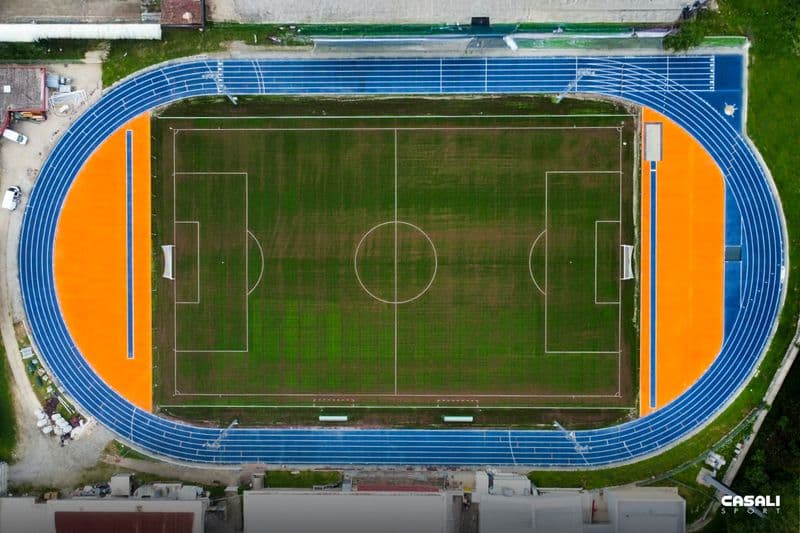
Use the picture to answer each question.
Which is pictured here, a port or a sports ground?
sports ground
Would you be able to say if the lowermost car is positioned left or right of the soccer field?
left of it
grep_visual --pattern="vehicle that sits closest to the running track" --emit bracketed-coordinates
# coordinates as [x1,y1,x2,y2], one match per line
[2,187,23,211]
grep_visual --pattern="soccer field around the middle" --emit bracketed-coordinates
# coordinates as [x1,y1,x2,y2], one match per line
[173,127,621,406]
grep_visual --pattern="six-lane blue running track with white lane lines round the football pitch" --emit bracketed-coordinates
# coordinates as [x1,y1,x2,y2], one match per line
[18,55,784,465]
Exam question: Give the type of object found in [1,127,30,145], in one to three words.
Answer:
vehicle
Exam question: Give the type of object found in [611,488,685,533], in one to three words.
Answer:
building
